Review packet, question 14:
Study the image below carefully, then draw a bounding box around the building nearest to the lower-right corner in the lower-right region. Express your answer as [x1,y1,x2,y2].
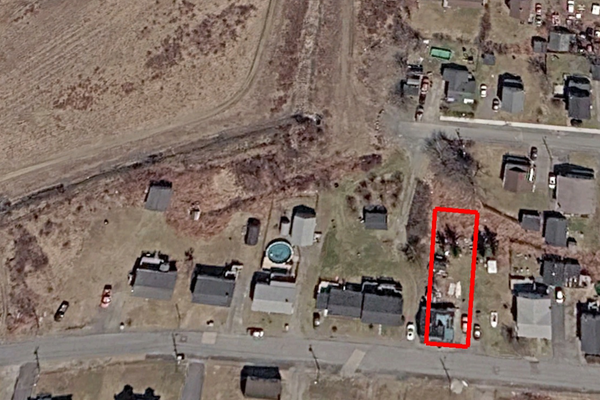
[574,301,600,365]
